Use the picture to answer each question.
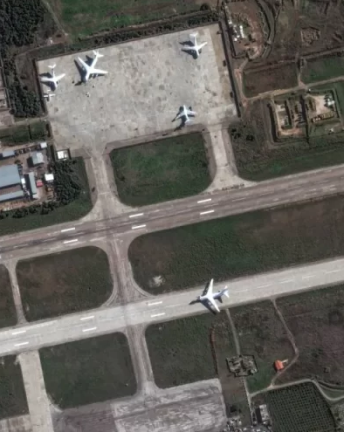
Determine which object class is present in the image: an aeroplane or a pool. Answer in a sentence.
I can see an aeroplane in this picture.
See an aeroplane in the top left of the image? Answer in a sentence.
Yes, the scene does show an aeroplane in the top left of the image.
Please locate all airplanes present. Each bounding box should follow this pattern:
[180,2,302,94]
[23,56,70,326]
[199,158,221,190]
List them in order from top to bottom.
[184,32,208,57]
[79,49,109,81]
[42,62,67,89]
[177,104,198,125]
[200,279,232,310]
